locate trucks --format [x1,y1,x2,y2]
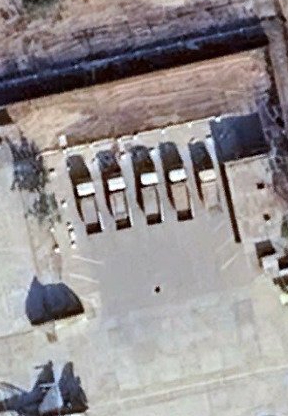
[106,173,133,226]
[139,168,164,222]
[168,164,193,219]
[197,163,224,208]
[76,177,104,232]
